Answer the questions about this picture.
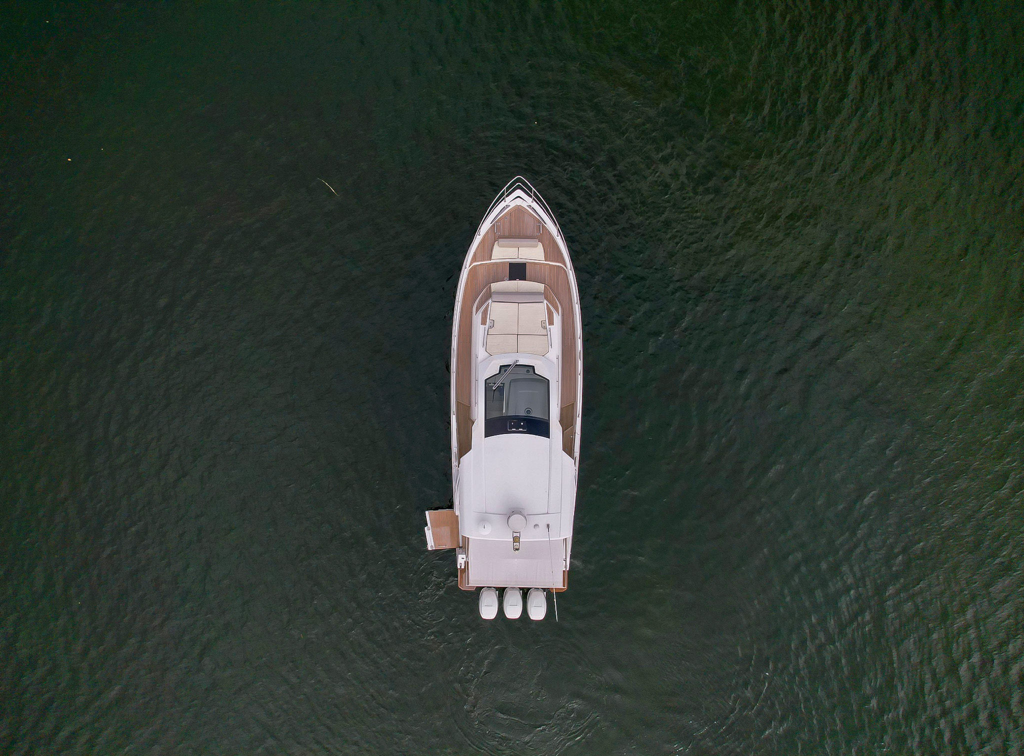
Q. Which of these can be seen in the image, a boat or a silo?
boat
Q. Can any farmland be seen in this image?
No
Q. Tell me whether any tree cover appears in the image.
No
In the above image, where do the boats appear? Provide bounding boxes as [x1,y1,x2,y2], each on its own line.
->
[425,175,583,621]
